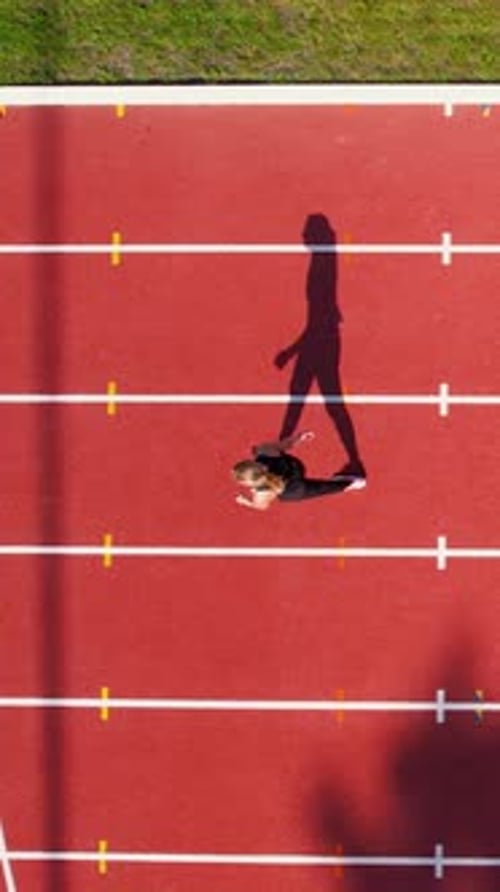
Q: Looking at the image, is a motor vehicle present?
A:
No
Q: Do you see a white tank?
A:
No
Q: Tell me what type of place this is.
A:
sports ground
